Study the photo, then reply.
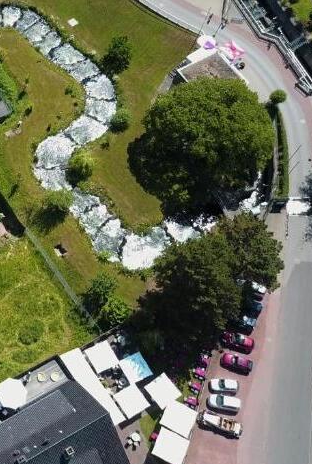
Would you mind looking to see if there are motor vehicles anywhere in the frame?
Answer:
Yes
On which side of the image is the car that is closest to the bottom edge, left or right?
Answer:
right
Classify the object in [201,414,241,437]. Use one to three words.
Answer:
car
